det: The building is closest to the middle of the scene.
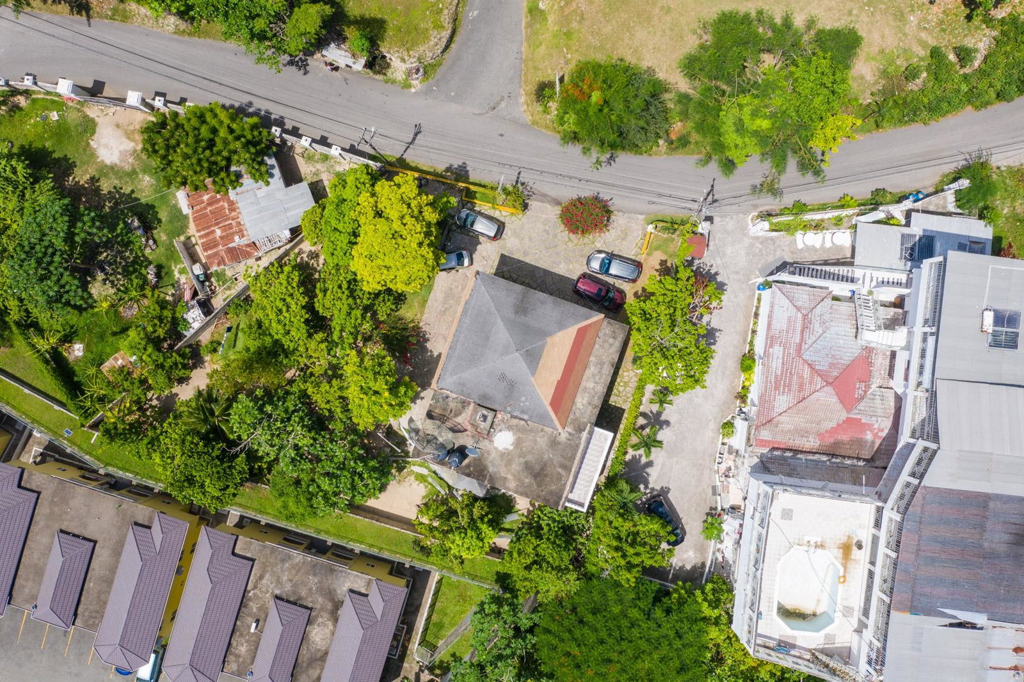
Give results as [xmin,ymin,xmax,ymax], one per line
[392,273,628,511]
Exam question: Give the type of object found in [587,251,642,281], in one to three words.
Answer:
car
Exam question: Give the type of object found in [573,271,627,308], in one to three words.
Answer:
car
